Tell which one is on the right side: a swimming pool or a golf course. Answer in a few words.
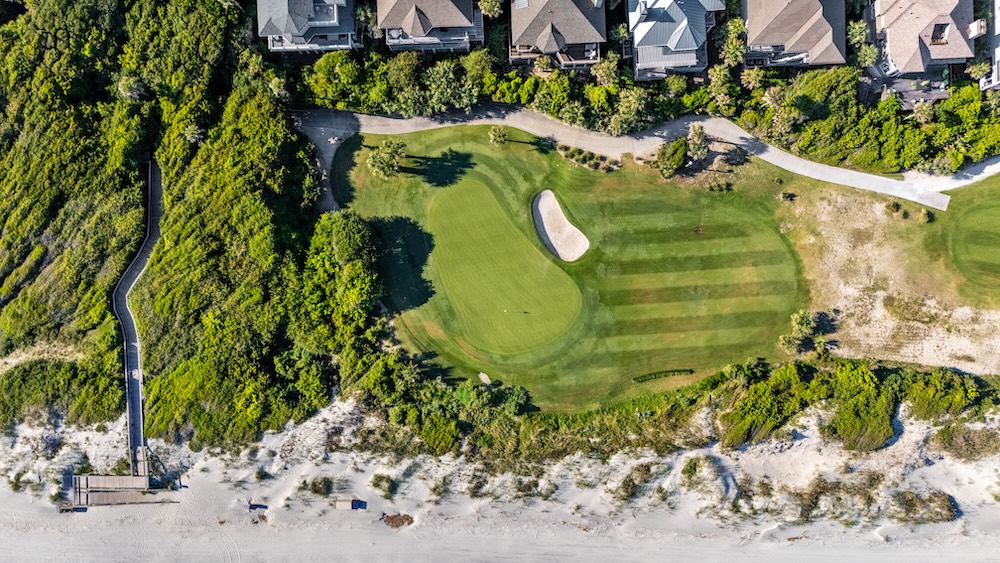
golf course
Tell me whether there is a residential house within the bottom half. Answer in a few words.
No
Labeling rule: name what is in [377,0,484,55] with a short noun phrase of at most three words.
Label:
house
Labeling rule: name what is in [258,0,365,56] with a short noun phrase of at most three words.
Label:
house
